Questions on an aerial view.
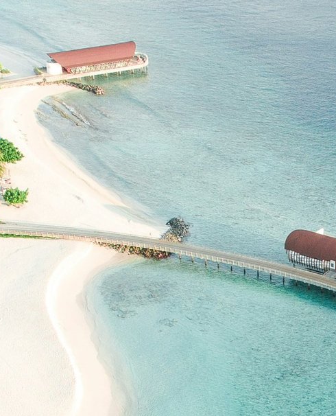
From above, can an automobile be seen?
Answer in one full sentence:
No, this view has no automobile in it.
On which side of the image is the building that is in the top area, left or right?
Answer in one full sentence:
The building that is in the top area is on the left side of the image.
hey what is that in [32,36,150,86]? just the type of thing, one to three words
building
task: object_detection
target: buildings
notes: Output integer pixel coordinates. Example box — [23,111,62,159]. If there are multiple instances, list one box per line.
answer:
[287,229,336,280]
[32,36,150,86]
